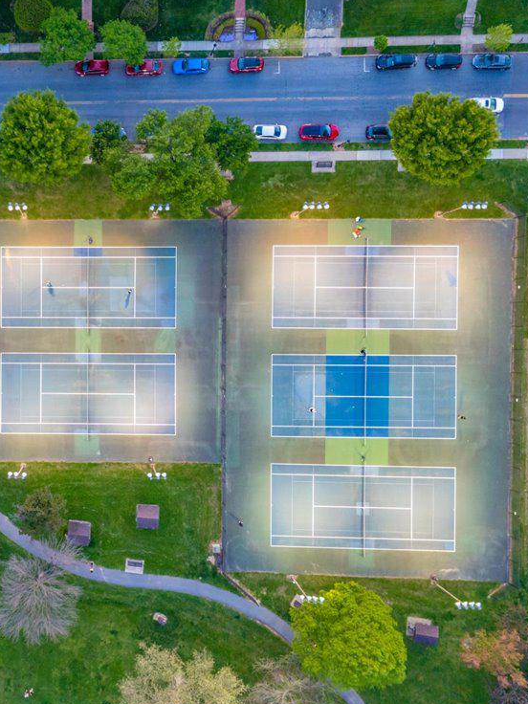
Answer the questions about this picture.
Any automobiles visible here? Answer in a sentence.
Yes, I can see an automobile in this picture.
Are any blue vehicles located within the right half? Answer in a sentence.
Yes, within the right half there is a blue vehicle.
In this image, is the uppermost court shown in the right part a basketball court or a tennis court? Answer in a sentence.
The uppermost court shown in the right part in the image is a tennis court.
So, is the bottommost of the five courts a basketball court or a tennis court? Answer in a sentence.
Specifically, the bottommost of the five courts is a tennis court.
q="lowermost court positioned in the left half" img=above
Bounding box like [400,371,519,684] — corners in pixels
[0,342,223,464]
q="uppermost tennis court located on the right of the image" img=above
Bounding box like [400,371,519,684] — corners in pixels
[230,217,515,342]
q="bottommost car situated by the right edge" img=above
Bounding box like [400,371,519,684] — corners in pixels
[471,94,507,112]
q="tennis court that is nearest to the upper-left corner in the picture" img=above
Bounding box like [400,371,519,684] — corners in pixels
[0,220,223,342]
